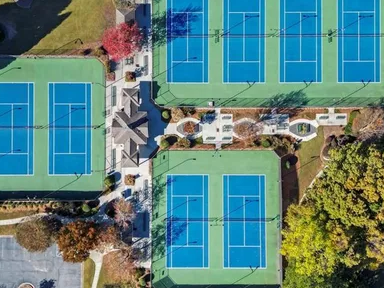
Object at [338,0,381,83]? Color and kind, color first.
blue tennis court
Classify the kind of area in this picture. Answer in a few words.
sports ground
